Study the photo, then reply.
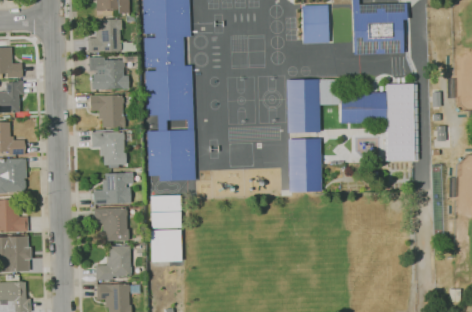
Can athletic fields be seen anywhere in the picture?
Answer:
Yes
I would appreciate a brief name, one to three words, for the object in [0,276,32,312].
house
